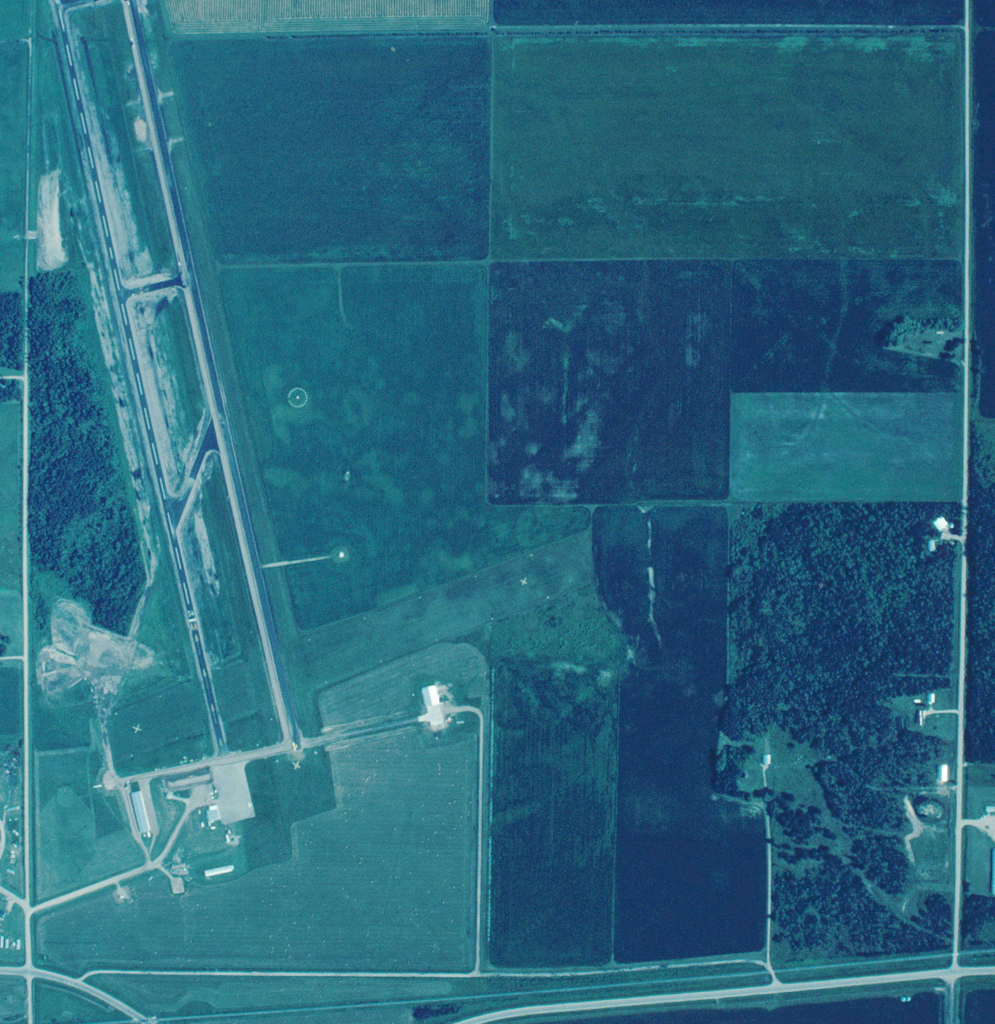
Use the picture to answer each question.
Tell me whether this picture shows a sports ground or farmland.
farmland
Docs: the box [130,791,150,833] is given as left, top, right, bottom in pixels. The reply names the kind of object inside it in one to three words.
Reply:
hangar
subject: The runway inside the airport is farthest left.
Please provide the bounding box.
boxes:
[53,0,225,755]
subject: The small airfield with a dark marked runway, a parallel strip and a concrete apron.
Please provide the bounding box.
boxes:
[50,0,443,894]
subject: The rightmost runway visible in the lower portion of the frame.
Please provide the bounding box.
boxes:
[294,527,598,732]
